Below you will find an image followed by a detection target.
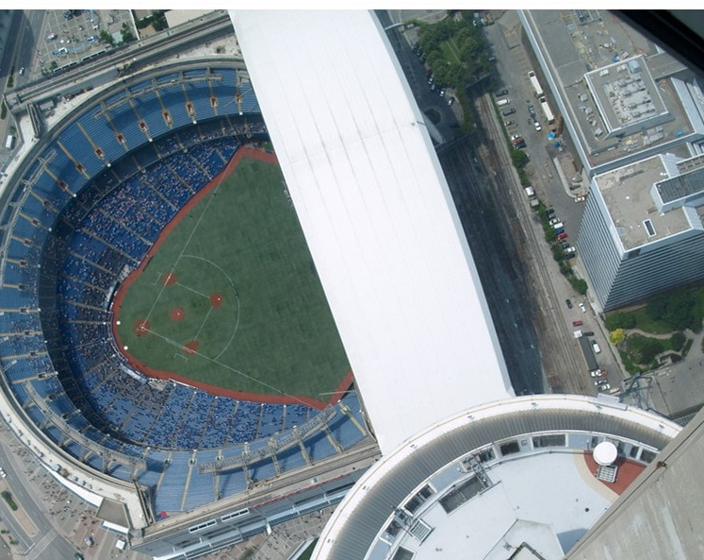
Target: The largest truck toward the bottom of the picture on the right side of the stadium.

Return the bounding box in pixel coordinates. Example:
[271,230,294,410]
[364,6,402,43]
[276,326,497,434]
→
[576,329,600,371]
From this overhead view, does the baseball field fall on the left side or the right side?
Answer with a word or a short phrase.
left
